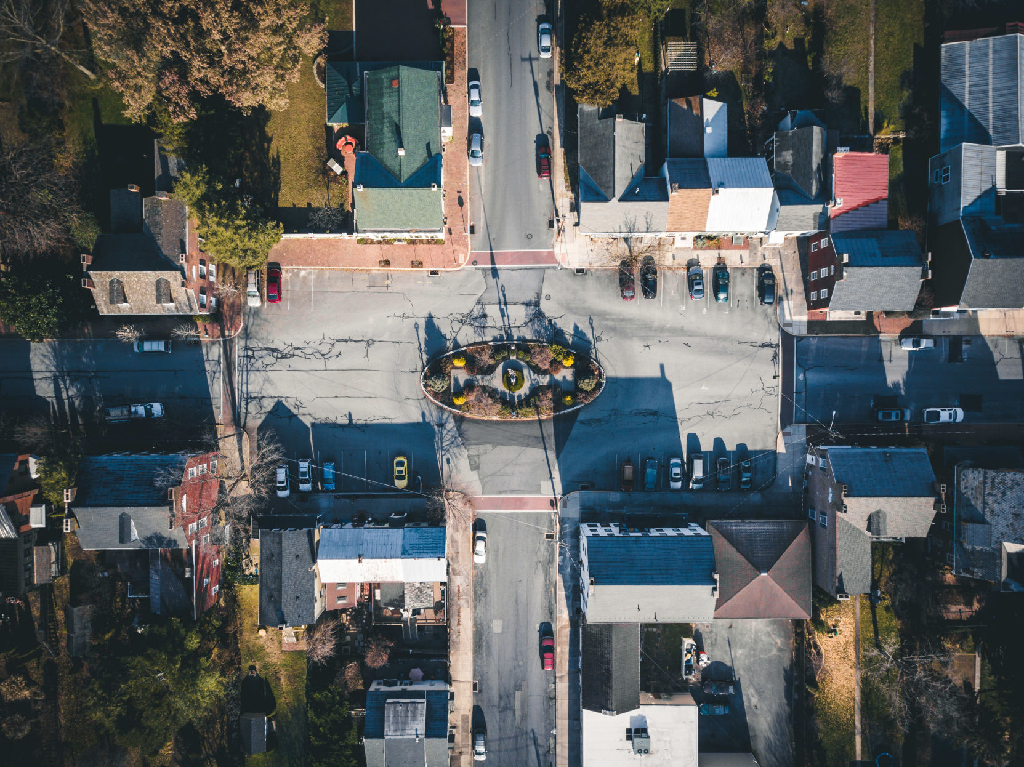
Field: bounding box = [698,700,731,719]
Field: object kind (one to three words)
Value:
car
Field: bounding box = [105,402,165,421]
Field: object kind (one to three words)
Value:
vehicle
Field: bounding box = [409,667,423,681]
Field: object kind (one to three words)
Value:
umbrella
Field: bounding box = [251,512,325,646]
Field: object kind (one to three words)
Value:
house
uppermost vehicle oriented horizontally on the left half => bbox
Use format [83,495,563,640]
[133,337,174,355]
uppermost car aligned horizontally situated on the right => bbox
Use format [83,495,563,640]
[899,335,935,352]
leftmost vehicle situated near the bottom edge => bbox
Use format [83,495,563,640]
[471,726,488,759]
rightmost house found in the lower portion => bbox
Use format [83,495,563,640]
[930,447,1024,595]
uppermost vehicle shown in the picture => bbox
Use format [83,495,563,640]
[537,22,554,61]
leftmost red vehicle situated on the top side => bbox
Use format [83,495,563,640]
[265,266,283,304]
